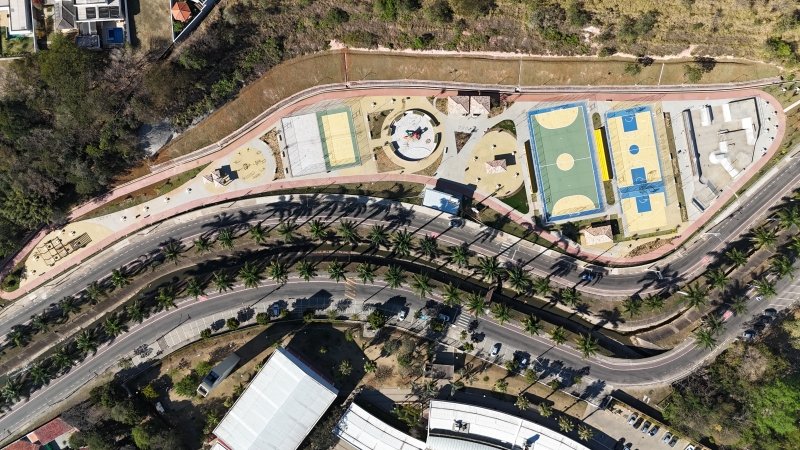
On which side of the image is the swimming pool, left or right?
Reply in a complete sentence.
The swimming pool sits on the left side.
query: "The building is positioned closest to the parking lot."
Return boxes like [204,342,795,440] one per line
[427,398,588,450]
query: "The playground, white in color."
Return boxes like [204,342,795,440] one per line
[390,107,440,159]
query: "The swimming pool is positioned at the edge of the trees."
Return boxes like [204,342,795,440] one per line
[102,27,125,47]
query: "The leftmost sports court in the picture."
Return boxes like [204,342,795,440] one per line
[282,112,327,177]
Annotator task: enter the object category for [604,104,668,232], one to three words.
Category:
sports court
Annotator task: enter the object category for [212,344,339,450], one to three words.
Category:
building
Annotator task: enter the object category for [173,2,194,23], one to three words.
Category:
gazebo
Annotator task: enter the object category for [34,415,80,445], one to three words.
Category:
house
